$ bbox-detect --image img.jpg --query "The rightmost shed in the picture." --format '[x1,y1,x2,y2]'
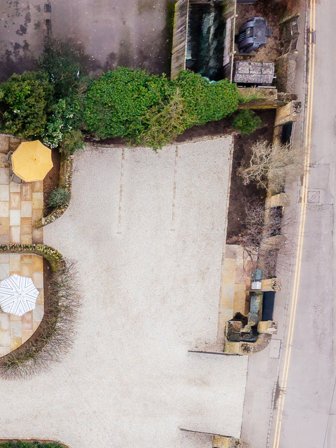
[223,62,278,93]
